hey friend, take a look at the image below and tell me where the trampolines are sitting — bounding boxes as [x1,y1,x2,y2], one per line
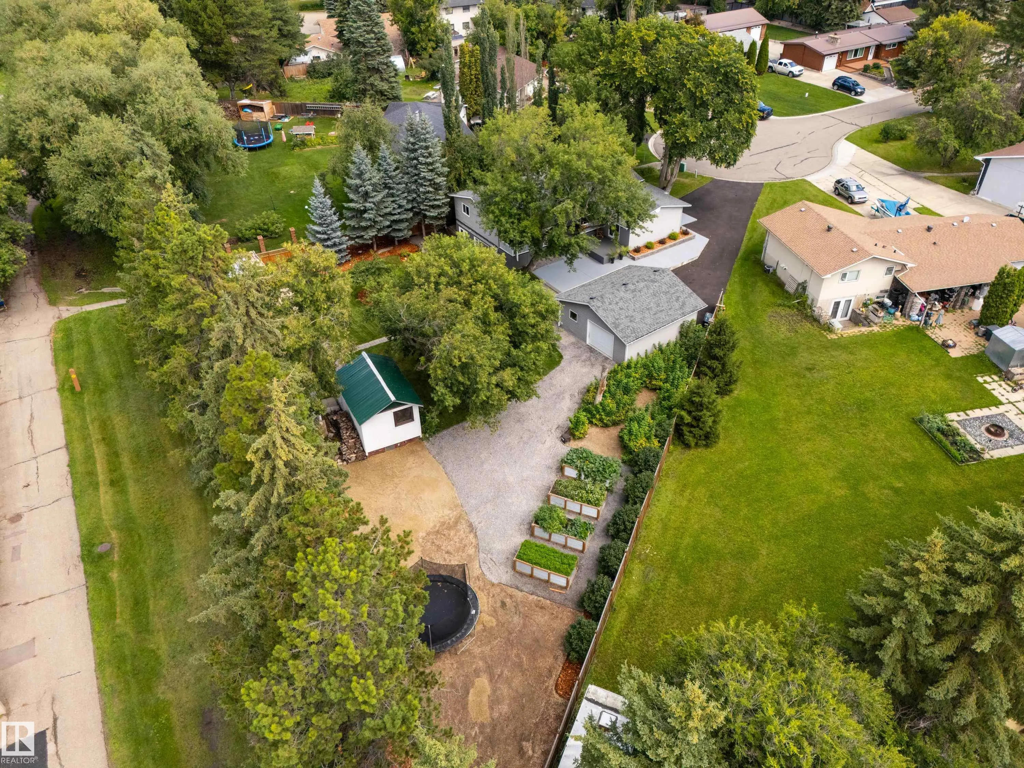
[391,559,480,665]
[228,115,276,152]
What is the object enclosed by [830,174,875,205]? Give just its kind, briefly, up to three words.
car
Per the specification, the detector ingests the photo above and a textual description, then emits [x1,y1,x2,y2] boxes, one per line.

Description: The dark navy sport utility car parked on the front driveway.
[831,74,869,95]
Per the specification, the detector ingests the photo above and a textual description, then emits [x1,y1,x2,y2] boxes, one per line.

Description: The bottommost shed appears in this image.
[332,355,424,452]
